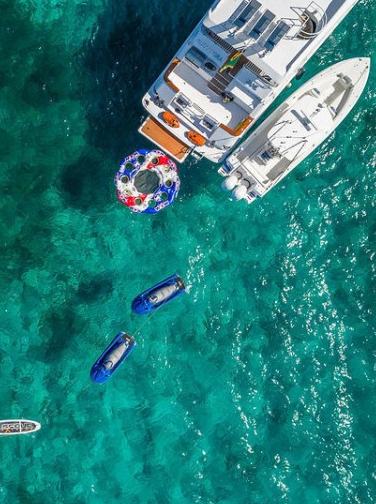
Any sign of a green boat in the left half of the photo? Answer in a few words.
No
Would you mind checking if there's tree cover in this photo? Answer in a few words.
No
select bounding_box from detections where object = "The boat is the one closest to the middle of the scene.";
[132,272,187,312]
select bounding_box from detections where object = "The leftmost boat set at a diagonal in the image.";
[93,329,137,382]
